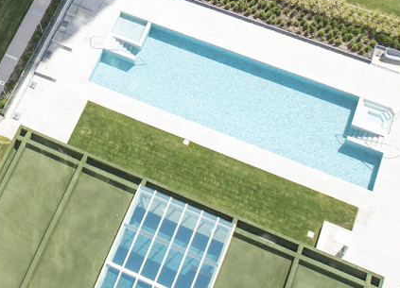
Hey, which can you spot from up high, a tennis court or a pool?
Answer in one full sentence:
This aerial view contains a pool.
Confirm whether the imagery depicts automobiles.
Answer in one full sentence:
No, the photo shows no automobile.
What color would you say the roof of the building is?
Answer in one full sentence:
From above, the roof of the building looks green.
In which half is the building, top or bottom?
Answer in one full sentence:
The building sits in the bottom half of the picture.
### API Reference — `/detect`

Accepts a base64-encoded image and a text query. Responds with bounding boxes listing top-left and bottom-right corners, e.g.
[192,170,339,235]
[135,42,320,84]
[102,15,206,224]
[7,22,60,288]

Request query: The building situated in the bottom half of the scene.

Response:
[0,126,384,288]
